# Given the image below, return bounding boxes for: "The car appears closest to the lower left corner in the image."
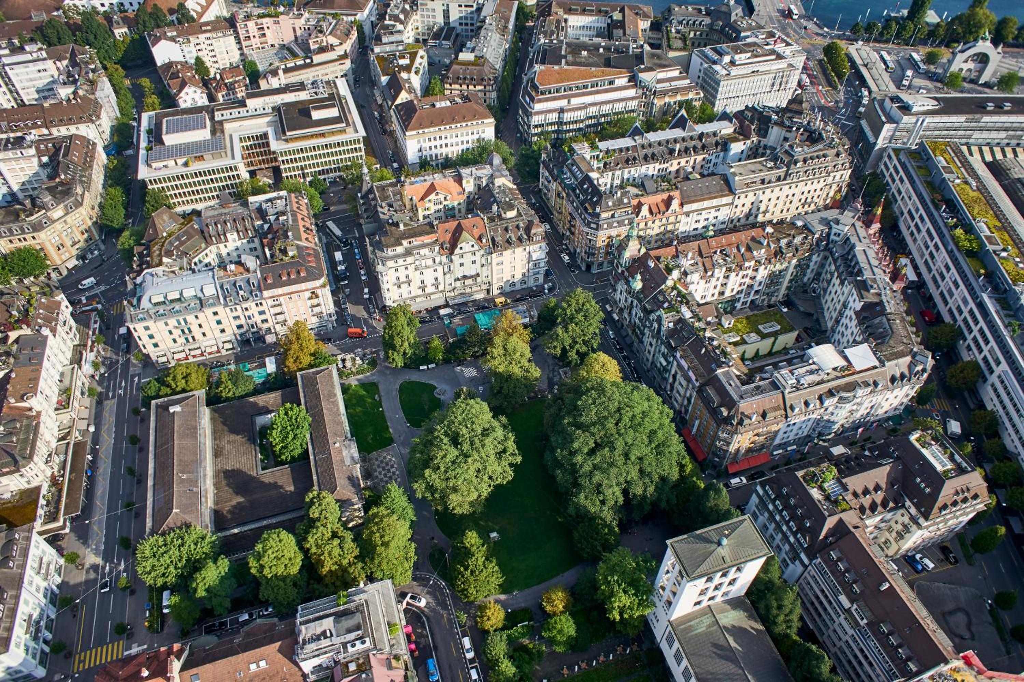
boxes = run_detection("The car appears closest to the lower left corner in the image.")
[99,574,111,594]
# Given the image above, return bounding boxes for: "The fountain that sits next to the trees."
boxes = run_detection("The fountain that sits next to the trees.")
[431,383,450,398]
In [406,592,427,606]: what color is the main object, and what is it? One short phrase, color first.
white car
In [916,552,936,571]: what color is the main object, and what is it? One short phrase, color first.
white car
